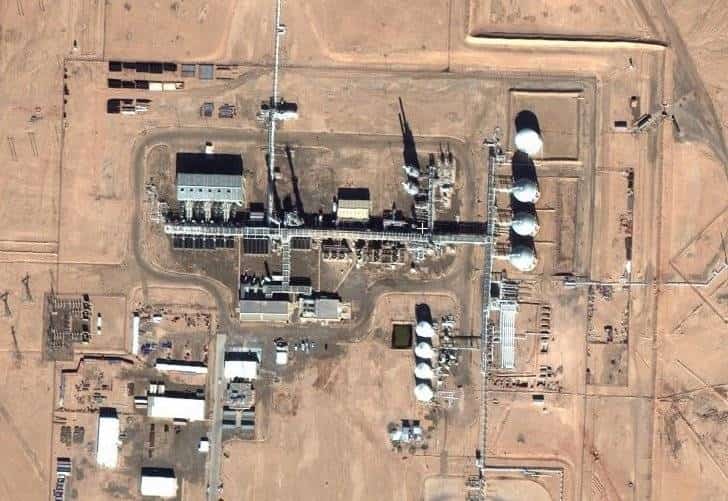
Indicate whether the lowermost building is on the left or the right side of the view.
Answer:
left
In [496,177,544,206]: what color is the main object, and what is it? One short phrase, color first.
white storage tank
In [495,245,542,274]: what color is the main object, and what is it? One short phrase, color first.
white storage tank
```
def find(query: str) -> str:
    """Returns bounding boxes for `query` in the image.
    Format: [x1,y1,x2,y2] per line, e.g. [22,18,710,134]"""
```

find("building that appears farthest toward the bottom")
[141,476,178,497]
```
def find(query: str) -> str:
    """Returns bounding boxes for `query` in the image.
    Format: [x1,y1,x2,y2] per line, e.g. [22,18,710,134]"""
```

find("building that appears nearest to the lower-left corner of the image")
[97,418,119,469]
